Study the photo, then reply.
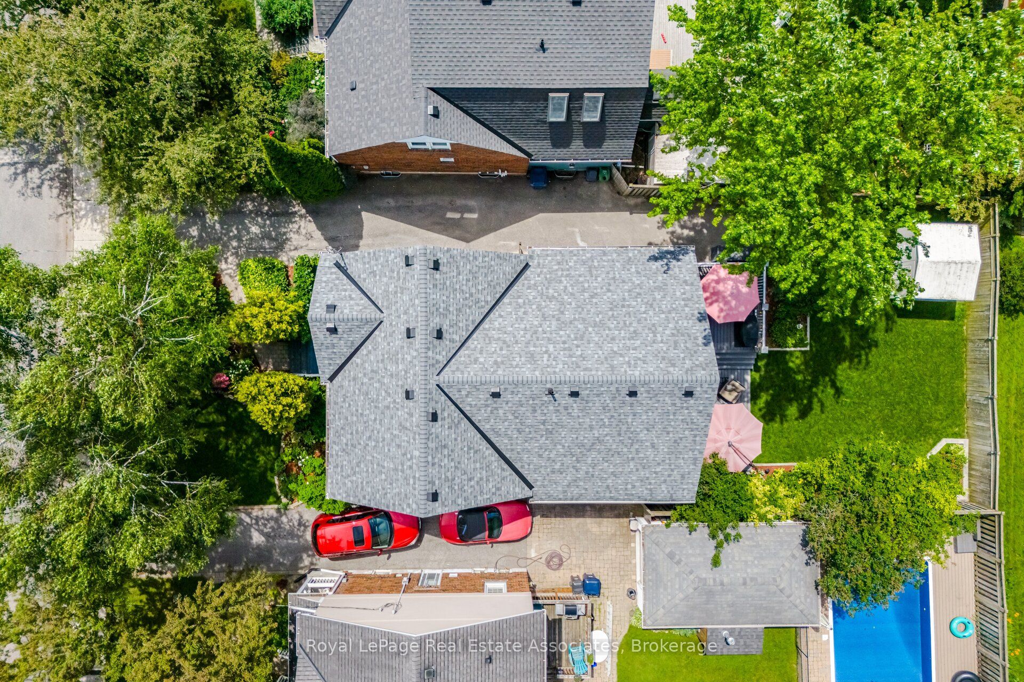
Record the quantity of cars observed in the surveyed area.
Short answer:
2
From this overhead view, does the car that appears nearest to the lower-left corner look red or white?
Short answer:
red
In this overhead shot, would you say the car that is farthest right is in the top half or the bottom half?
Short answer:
bottom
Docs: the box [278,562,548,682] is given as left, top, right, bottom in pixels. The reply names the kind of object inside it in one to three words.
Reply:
house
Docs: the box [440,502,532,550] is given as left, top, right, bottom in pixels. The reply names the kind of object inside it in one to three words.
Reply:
car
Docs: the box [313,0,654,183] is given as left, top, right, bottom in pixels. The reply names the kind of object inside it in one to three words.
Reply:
house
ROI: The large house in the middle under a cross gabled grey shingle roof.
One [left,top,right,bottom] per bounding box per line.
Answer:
[297,242,716,518]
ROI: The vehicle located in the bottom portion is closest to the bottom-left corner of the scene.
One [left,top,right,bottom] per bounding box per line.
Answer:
[310,508,421,558]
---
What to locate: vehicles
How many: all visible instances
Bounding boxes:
[440,502,532,550]
[310,508,421,558]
